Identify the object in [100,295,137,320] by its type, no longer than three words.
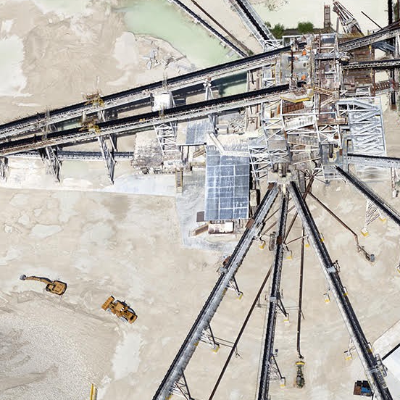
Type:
work vehicle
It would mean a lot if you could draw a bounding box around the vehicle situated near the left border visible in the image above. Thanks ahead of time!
[19,274,69,292]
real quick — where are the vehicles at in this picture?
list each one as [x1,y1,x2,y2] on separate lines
[100,295,137,320]
[19,274,69,292]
